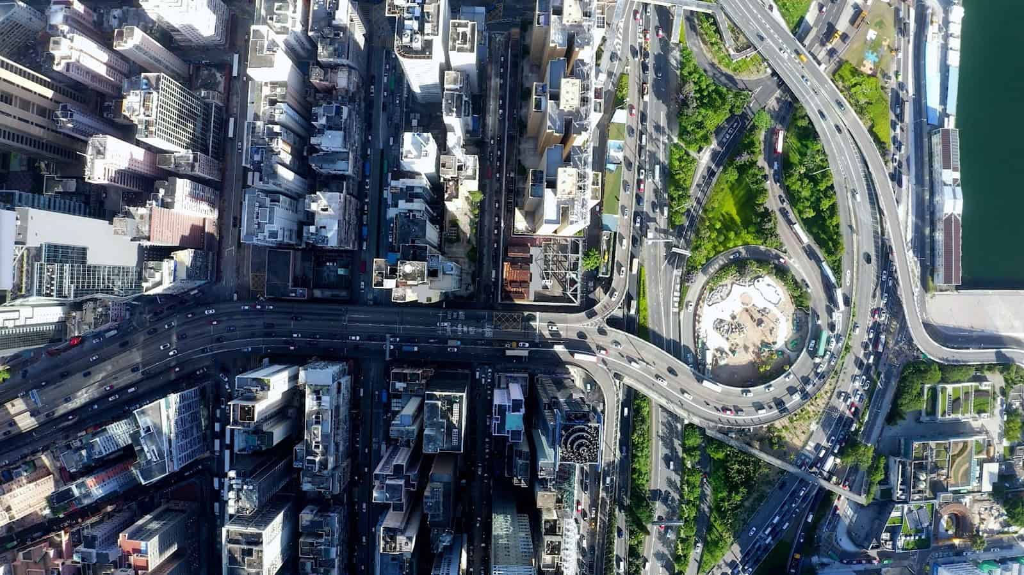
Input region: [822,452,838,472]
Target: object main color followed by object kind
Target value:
white vehicle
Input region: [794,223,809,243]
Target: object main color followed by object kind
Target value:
white vehicle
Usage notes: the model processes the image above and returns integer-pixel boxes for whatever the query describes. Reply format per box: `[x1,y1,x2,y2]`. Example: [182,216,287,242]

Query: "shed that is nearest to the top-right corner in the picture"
[941,5,963,68]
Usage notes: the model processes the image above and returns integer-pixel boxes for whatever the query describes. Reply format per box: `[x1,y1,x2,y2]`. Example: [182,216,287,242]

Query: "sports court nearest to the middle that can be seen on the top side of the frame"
[603,168,620,214]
